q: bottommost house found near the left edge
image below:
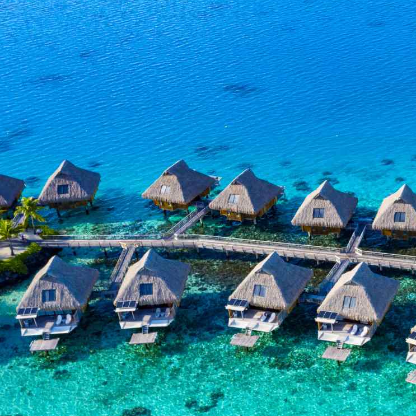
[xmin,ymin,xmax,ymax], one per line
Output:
[14,255,98,345]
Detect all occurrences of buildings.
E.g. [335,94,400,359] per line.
[293,181,357,248]
[38,160,103,227]
[373,184,416,250]
[14,255,98,345]
[112,249,189,338]
[210,168,289,235]
[0,176,28,220]
[314,261,397,354]
[224,250,311,342]
[143,159,223,222]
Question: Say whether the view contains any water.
Yes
